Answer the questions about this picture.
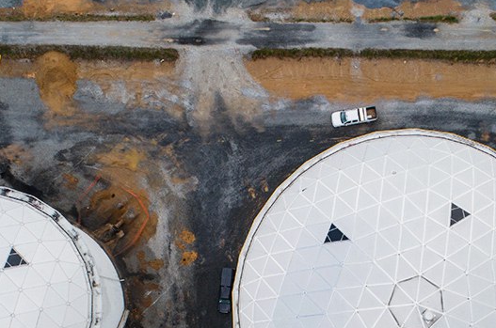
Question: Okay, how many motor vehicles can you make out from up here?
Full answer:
Looking from above, you can make out 2 motor vehicles.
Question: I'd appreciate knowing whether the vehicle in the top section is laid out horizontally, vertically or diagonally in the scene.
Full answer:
In this picture, the vehicle in the top section is oriented horizontally.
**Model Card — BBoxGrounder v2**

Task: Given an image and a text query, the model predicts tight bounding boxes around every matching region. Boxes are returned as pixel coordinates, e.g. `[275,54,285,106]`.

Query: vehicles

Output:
[330,106,378,127]
[215,266,235,315]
